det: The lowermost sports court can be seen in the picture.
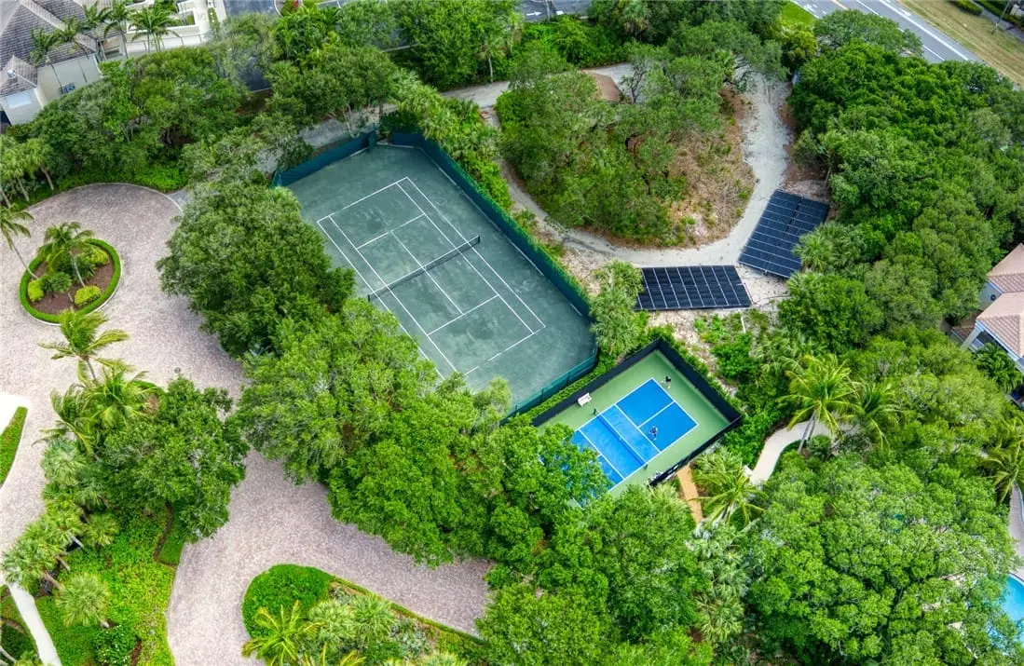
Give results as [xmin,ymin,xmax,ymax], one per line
[445,351,731,553]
